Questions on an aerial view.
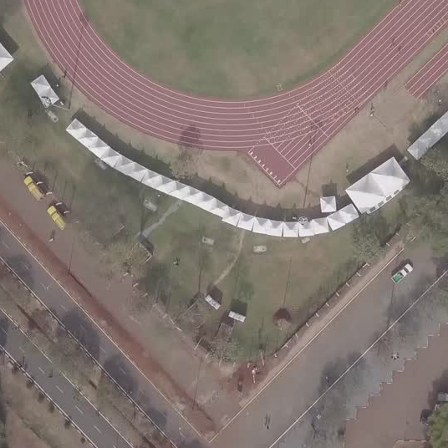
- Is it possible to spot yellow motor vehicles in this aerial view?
Yes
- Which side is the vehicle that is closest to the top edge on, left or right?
left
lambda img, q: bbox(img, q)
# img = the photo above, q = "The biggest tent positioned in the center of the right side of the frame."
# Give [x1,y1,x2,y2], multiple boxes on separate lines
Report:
[346,157,406,213]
